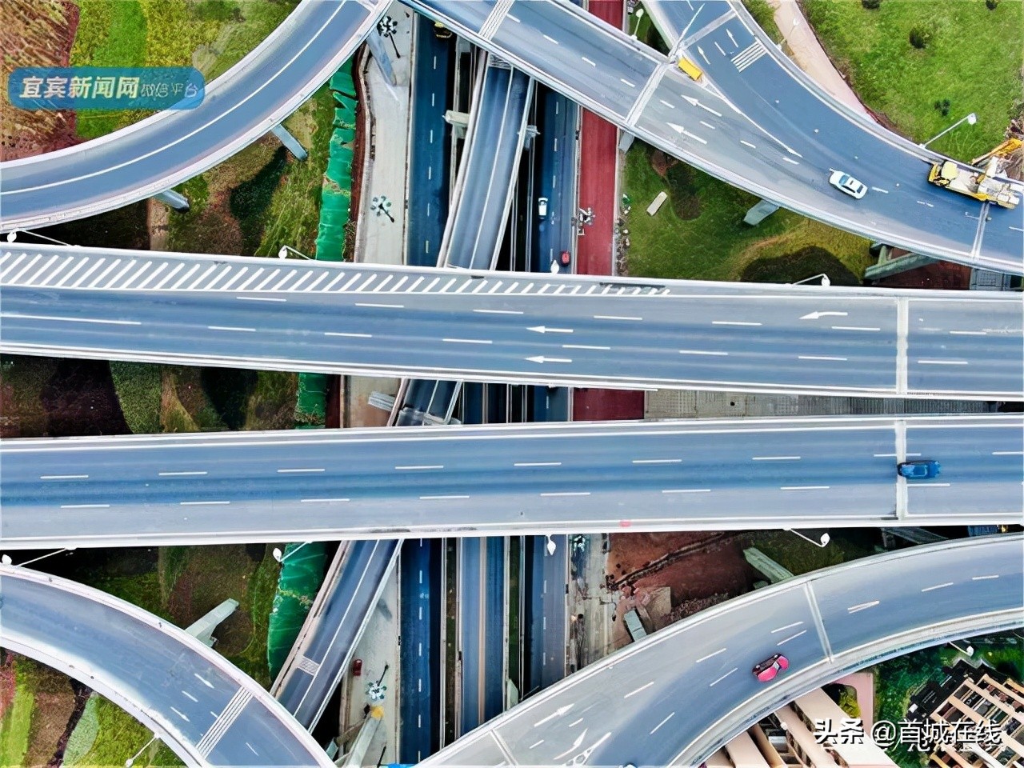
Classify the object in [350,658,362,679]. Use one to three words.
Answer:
vehicle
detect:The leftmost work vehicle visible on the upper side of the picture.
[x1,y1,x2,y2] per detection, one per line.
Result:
[433,22,448,47]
